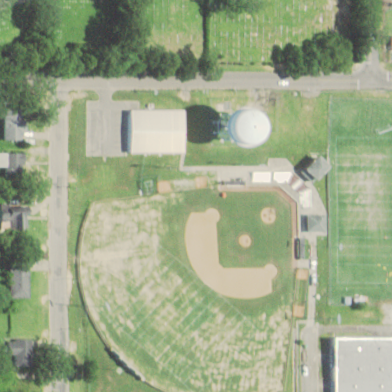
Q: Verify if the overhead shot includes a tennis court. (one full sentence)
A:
No, there isn't any tennis court down there.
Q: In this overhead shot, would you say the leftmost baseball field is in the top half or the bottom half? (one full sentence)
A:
Seen from above, the leftmost baseball field lies in the bottom half of the view.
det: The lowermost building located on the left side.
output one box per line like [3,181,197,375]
[9,340,32,366]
